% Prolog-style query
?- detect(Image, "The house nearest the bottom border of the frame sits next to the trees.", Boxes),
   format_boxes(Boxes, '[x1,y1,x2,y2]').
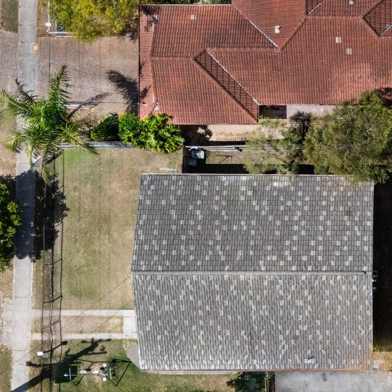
[131,171,376,372]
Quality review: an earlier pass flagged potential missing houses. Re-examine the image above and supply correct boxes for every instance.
[137,0,392,126]
[131,171,376,372]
